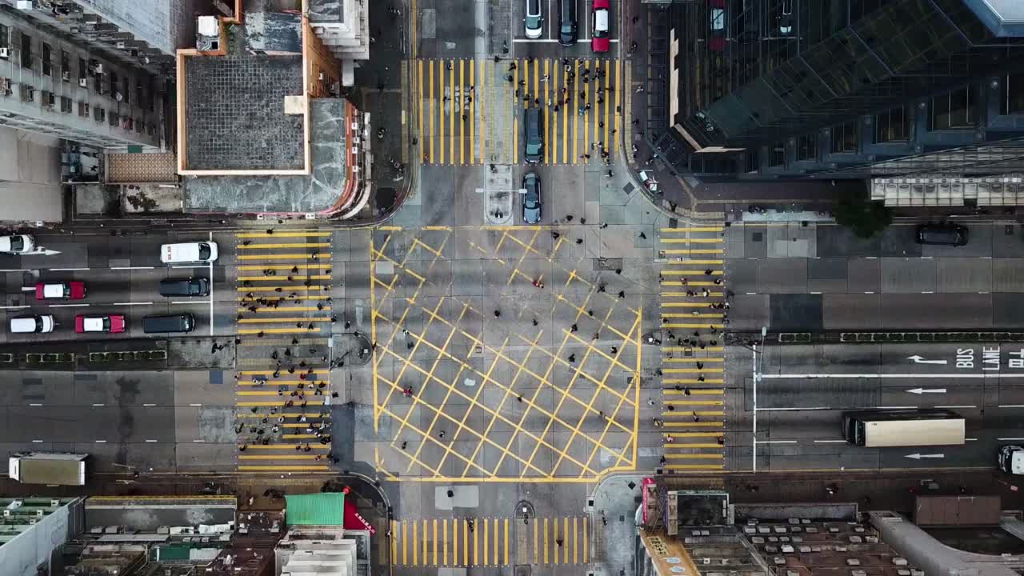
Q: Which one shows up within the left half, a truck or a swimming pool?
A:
truck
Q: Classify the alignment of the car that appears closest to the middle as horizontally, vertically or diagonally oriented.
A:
vertically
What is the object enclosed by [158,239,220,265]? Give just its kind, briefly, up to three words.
vehicle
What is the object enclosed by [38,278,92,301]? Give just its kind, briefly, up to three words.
car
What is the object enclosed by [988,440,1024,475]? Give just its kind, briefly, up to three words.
truck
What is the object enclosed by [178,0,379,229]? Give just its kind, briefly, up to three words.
building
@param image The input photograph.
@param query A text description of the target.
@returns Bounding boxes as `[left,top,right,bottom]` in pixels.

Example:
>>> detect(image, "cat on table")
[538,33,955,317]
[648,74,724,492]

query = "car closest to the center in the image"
[519,171,544,224]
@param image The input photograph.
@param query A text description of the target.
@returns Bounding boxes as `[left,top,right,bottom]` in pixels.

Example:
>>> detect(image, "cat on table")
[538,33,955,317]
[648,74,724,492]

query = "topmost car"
[588,0,612,54]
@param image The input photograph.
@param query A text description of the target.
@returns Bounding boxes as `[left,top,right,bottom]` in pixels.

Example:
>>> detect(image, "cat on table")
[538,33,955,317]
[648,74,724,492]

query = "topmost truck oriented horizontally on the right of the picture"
[838,411,966,446]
